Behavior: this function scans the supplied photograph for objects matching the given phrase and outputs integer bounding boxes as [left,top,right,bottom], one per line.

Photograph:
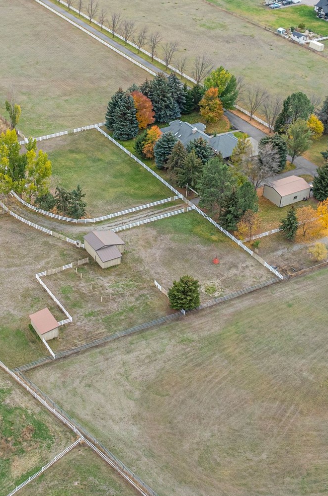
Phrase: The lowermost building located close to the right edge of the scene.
[261,176,313,207]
